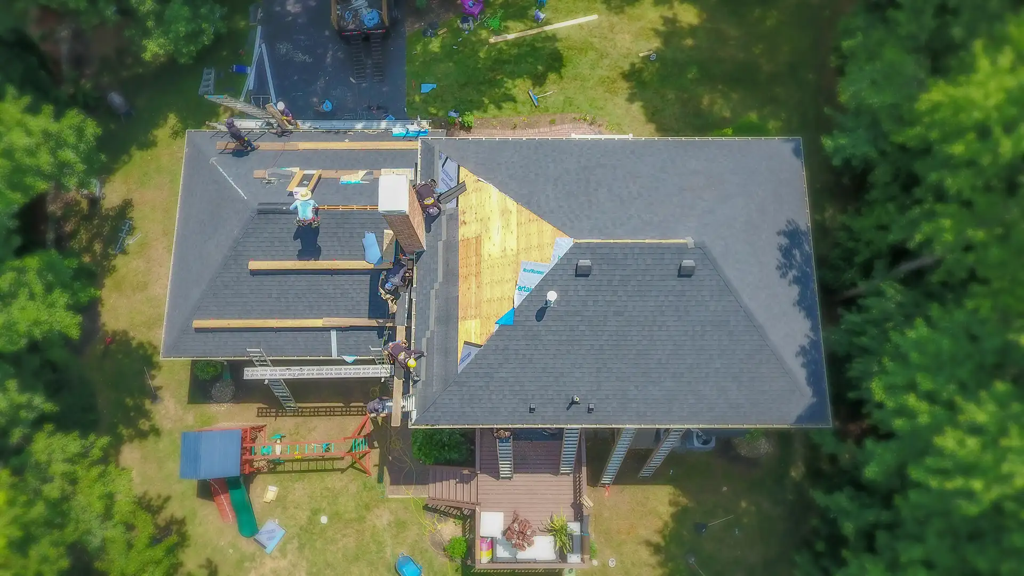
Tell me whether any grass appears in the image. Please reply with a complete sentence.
Yes, some grass is visible.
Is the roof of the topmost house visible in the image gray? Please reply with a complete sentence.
Yes, the roof of the topmost house is indeed gray.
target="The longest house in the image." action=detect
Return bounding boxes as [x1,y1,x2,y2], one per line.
[160,130,832,438]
